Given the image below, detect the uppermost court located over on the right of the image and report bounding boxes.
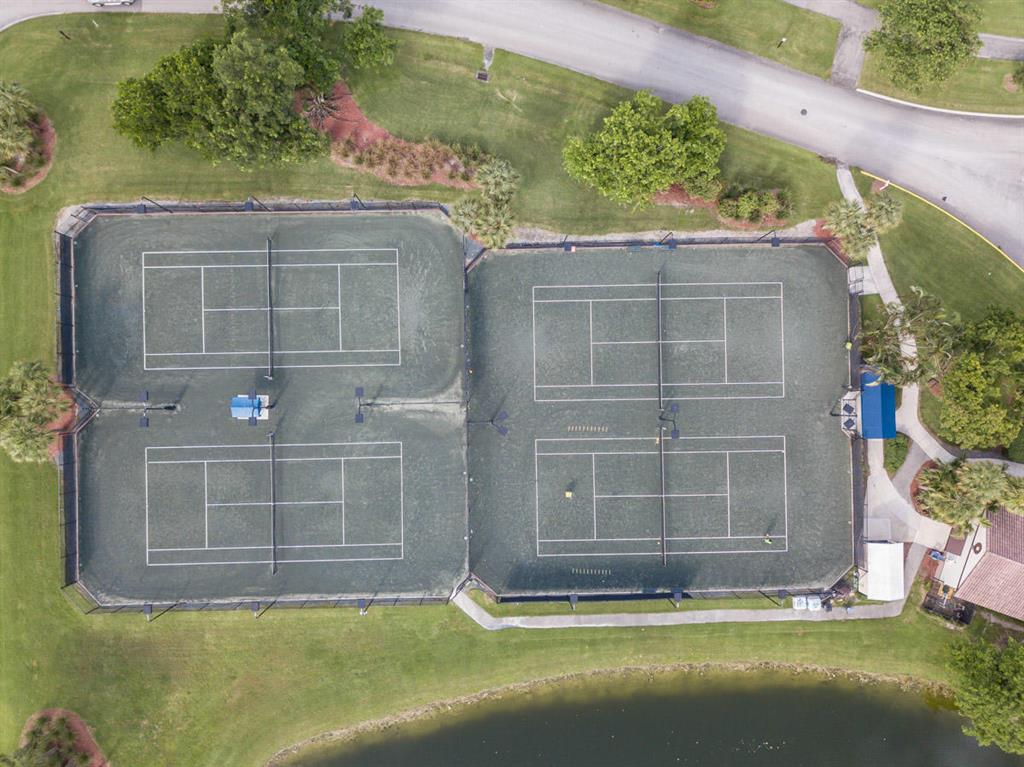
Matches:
[467,243,851,419]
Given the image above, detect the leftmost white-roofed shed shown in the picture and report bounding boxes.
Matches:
[860,539,904,599]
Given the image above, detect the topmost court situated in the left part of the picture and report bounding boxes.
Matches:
[72,209,467,409]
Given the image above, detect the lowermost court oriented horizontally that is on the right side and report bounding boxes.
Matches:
[468,414,853,596]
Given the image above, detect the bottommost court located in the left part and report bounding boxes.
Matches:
[75,405,469,606]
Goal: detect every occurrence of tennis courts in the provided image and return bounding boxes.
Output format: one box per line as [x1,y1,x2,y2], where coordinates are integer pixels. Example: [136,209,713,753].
[467,243,851,419]
[75,405,469,606]
[468,414,853,596]
[72,209,467,409]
